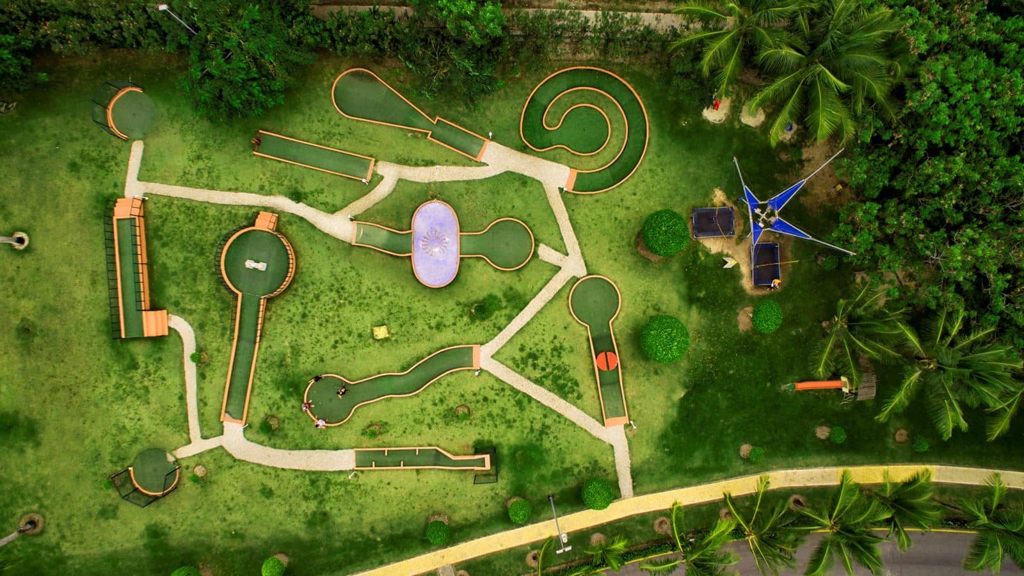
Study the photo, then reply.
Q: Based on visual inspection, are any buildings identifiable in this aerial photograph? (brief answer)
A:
No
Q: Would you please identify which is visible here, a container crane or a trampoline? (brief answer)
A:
trampoline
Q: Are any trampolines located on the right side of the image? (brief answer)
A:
Yes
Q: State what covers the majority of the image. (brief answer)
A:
grass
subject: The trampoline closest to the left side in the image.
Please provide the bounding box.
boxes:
[689,206,735,239]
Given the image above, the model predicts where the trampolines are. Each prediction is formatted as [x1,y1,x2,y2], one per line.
[747,242,781,286]
[689,206,735,239]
